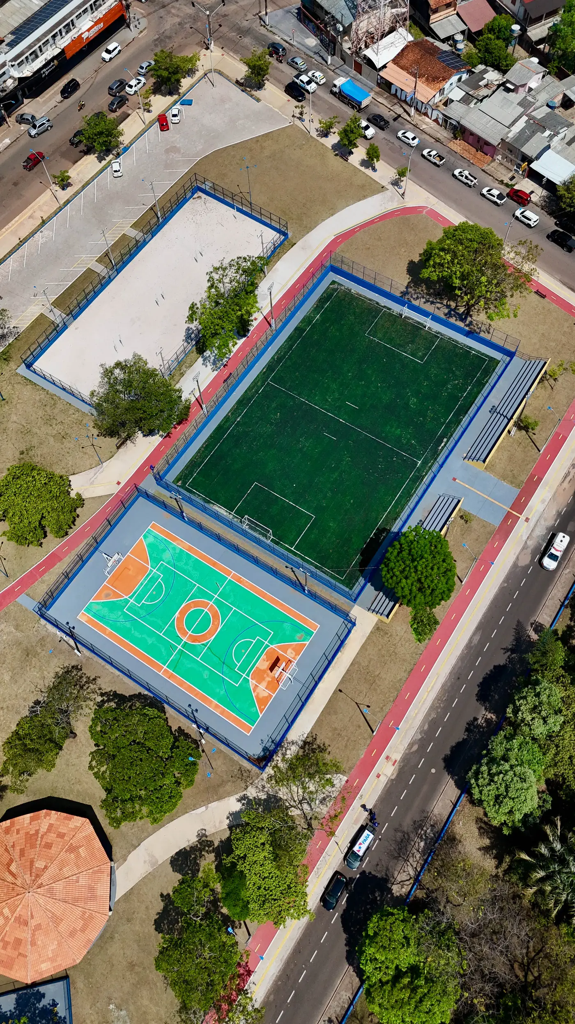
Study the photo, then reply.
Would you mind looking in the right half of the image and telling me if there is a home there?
Yes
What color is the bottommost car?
black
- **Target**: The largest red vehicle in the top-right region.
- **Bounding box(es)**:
[505,189,534,208]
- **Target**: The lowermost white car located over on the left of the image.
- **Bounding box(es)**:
[109,160,123,178]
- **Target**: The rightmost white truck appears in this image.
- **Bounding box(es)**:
[544,531,572,572]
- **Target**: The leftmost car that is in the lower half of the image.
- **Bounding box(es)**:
[320,871,347,913]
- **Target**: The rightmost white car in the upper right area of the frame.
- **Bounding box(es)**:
[512,209,542,228]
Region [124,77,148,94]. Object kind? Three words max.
car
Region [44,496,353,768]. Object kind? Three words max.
sports court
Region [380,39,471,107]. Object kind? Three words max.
house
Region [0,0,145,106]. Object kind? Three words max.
building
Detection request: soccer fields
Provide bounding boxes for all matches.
[160,269,511,602]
